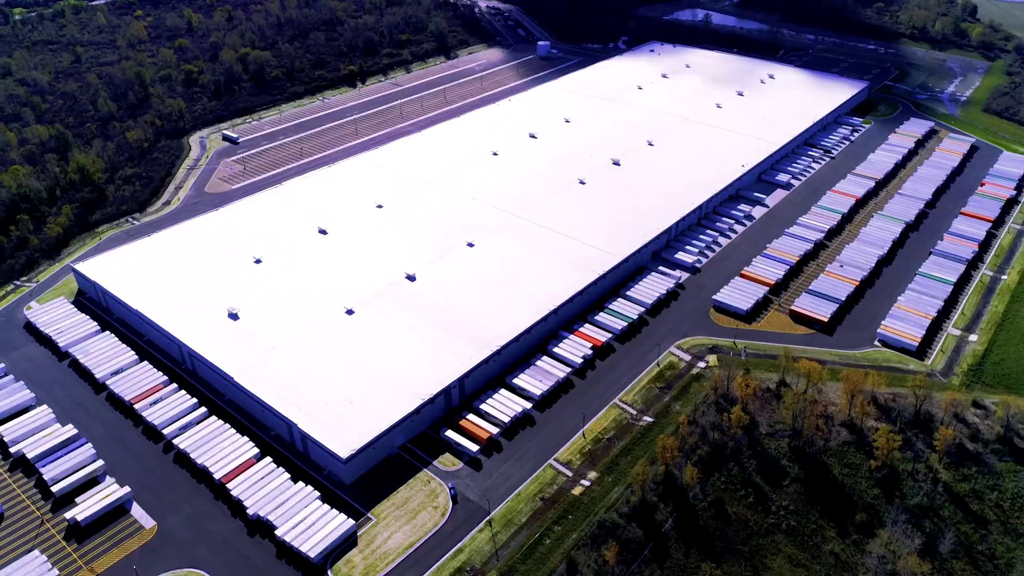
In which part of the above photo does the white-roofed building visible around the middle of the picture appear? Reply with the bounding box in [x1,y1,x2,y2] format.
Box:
[70,40,869,485]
